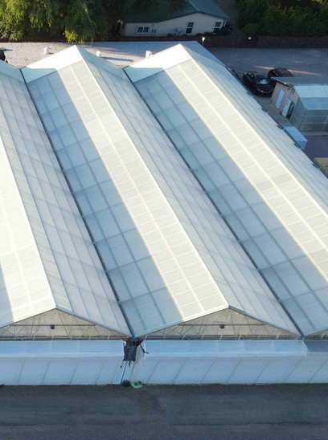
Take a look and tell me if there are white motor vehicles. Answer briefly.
No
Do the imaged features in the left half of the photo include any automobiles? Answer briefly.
No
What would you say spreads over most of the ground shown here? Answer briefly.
buildings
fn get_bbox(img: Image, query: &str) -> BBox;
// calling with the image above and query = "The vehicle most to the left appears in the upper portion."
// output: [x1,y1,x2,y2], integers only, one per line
[245,68,271,97]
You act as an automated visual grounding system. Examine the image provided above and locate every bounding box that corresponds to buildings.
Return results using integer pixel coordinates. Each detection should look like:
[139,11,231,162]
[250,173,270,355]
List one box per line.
[101,0,239,35]
[267,78,328,131]
[0,45,328,386]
